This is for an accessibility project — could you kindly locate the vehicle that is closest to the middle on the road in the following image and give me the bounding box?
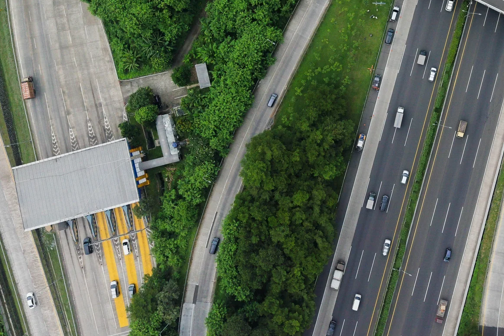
[266,92,279,108]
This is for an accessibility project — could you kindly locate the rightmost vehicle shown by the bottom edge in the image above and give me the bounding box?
[434,298,449,324]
